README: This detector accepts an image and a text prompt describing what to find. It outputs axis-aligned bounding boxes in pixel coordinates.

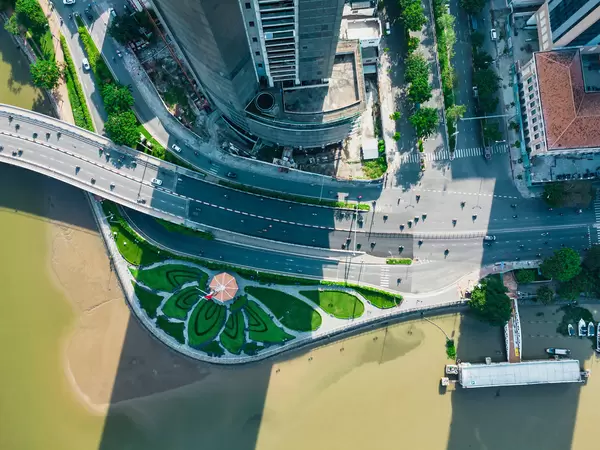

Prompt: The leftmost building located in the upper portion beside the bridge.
[156,0,366,158]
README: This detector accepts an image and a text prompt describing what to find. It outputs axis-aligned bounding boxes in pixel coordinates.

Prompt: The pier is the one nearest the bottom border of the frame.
[454,355,581,388]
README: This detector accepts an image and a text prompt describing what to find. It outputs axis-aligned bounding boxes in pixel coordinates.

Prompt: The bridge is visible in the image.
[0,104,340,253]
